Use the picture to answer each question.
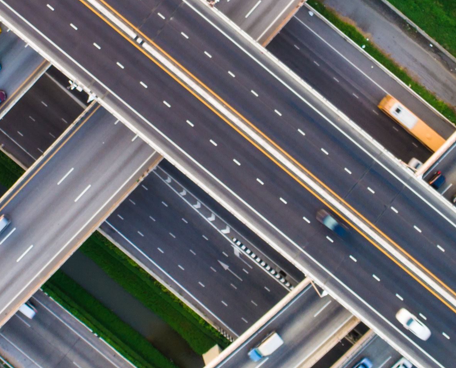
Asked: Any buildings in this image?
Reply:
No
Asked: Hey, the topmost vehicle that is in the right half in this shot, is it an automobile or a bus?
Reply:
bus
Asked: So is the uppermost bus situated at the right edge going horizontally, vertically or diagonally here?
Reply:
diagonally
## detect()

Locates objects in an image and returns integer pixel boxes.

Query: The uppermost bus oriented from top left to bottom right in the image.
[377,94,448,156]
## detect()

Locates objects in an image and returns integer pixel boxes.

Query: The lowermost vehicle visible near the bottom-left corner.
[17,301,40,323]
